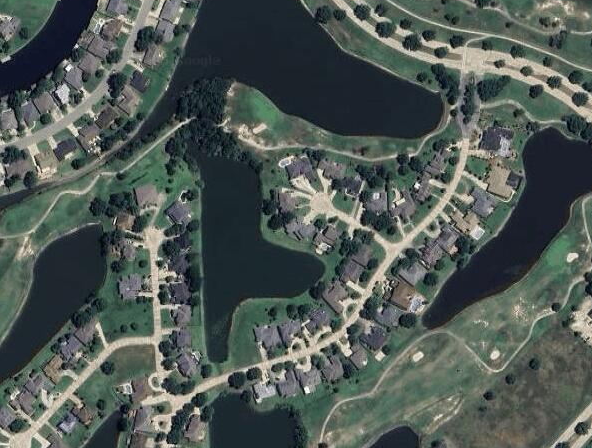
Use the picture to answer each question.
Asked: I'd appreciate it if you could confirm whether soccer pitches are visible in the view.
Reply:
No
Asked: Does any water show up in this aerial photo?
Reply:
Yes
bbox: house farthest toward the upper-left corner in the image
[0,12,21,40]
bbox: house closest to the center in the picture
[284,216,317,238]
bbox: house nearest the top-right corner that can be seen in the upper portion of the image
[475,126,505,155]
